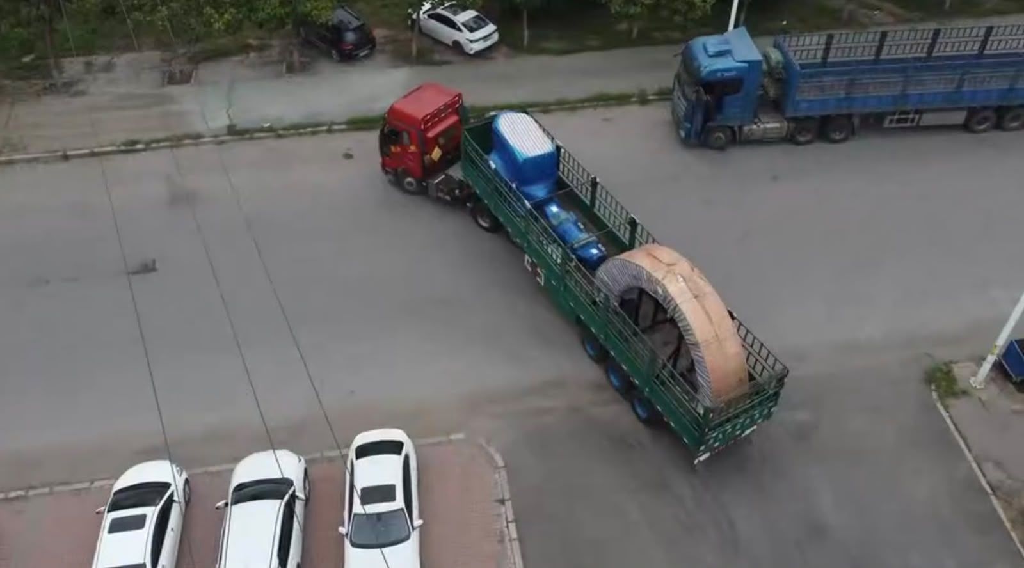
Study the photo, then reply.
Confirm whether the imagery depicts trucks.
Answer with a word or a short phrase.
Yes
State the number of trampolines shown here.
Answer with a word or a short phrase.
0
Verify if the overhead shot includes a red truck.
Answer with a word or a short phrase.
Yes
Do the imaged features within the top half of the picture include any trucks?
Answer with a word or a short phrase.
Yes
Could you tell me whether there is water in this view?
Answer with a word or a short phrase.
No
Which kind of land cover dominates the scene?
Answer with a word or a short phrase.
paved ground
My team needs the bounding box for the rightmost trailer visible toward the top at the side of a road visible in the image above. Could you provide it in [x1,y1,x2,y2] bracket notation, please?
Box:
[770,25,1024,137]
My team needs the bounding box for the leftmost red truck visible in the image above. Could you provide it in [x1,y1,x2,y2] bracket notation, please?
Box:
[378,85,518,246]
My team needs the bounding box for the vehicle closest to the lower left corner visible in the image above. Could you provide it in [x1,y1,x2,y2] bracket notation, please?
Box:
[90,460,191,568]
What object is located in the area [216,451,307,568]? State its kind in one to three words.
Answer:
car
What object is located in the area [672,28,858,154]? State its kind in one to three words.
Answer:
truck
